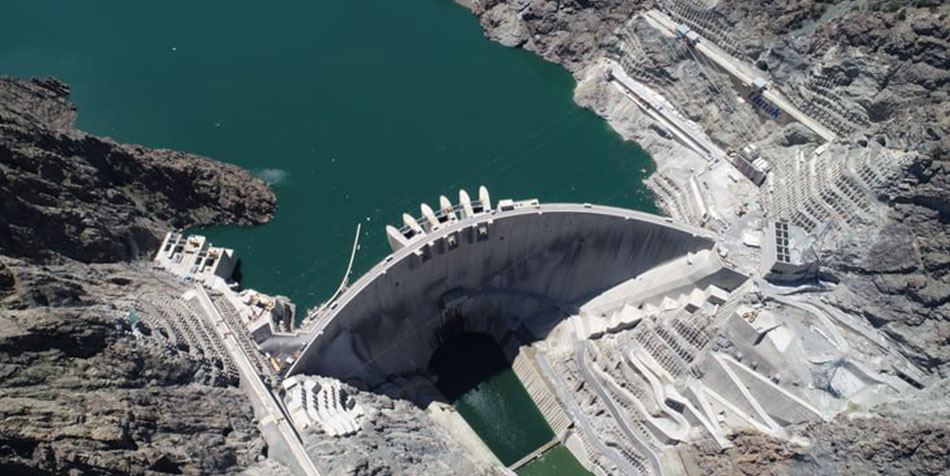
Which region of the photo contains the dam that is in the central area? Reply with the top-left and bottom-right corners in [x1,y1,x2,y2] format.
[277,187,720,380]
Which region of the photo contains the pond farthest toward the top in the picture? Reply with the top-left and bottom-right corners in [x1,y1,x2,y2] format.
[0,0,658,328]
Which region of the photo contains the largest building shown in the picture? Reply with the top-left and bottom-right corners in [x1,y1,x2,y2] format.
[758,219,799,275]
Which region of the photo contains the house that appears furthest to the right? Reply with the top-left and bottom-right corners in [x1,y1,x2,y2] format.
[892,369,924,394]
